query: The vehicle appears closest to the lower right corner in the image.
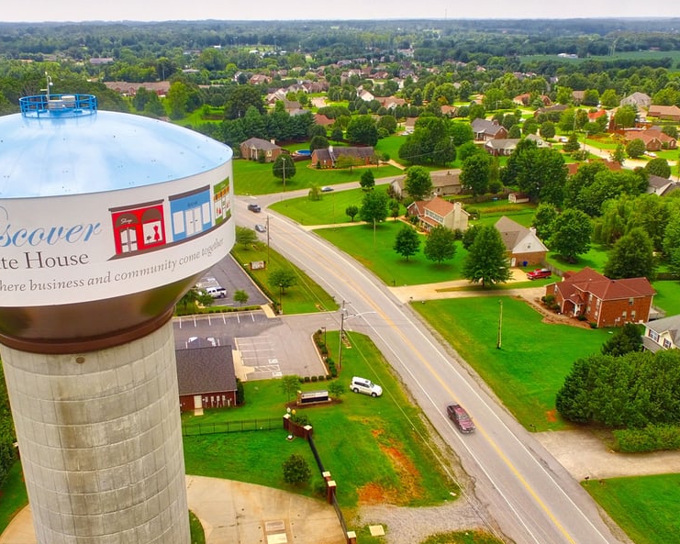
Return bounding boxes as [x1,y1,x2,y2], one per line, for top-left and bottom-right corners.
[448,404,477,434]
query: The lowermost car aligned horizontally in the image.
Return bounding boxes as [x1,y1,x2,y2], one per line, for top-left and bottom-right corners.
[349,375,385,395]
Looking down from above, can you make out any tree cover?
Yes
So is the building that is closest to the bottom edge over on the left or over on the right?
left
